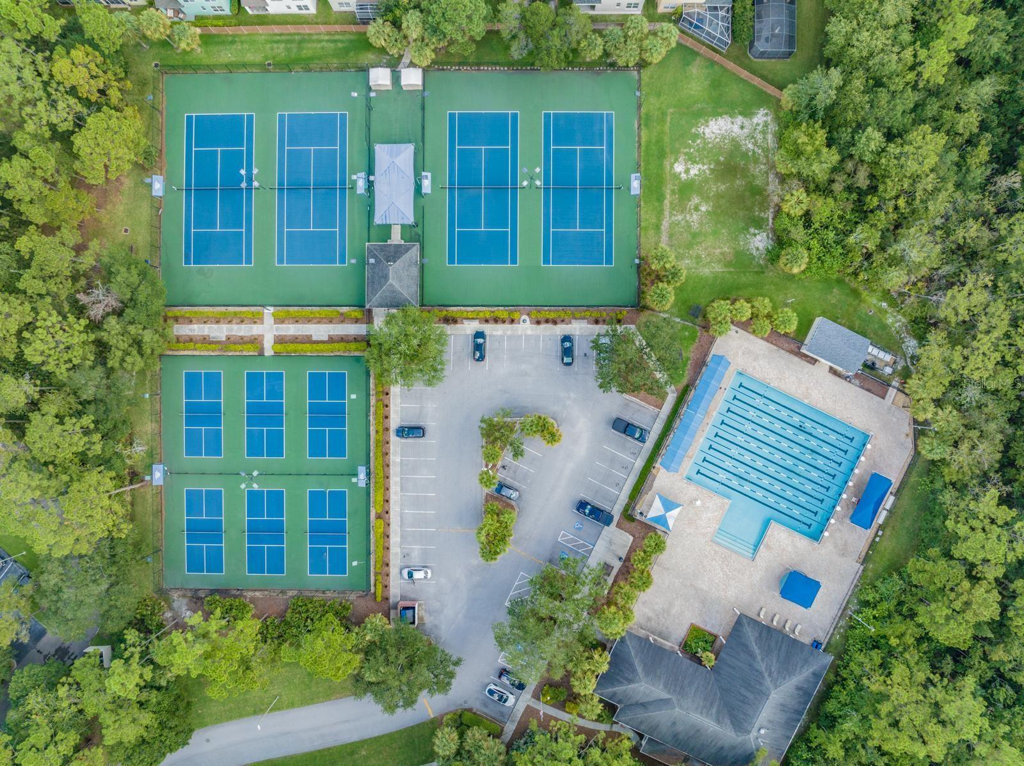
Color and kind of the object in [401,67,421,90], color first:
white tent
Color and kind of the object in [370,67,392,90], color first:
white tent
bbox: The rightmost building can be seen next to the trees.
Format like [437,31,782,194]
[800,316,870,374]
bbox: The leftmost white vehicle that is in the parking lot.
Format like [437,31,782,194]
[401,568,432,587]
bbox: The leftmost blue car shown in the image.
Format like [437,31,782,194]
[394,425,427,440]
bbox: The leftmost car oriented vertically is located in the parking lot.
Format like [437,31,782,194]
[472,330,486,361]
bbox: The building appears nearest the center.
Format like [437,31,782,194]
[365,242,420,308]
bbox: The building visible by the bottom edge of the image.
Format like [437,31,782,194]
[592,607,832,766]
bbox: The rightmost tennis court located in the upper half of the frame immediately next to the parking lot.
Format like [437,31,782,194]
[531,70,639,304]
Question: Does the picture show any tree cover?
Yes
